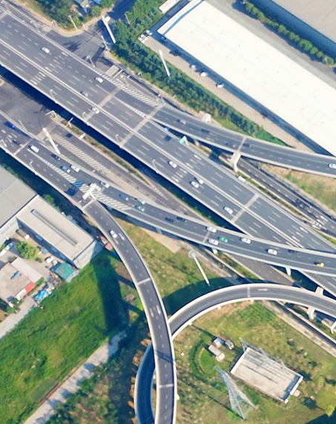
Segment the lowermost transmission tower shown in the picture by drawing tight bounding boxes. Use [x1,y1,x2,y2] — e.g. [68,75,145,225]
[213,364,257,423]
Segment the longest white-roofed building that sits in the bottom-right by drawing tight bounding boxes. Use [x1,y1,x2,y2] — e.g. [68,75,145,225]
[230,347,304,405]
